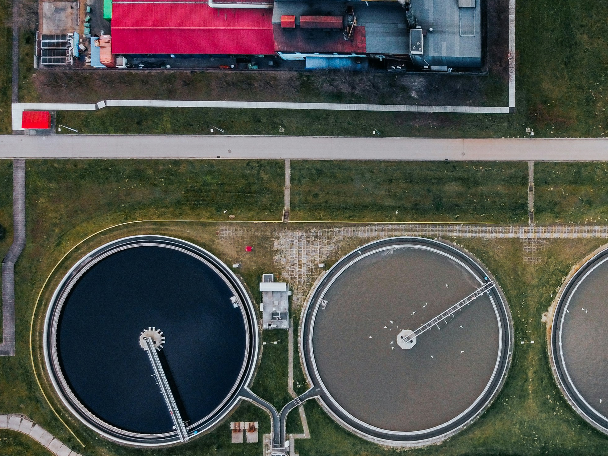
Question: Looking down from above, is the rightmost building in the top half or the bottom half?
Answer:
top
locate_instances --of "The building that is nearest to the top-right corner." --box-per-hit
[407,0,483,71]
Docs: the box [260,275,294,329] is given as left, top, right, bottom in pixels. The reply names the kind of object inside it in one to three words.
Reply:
building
